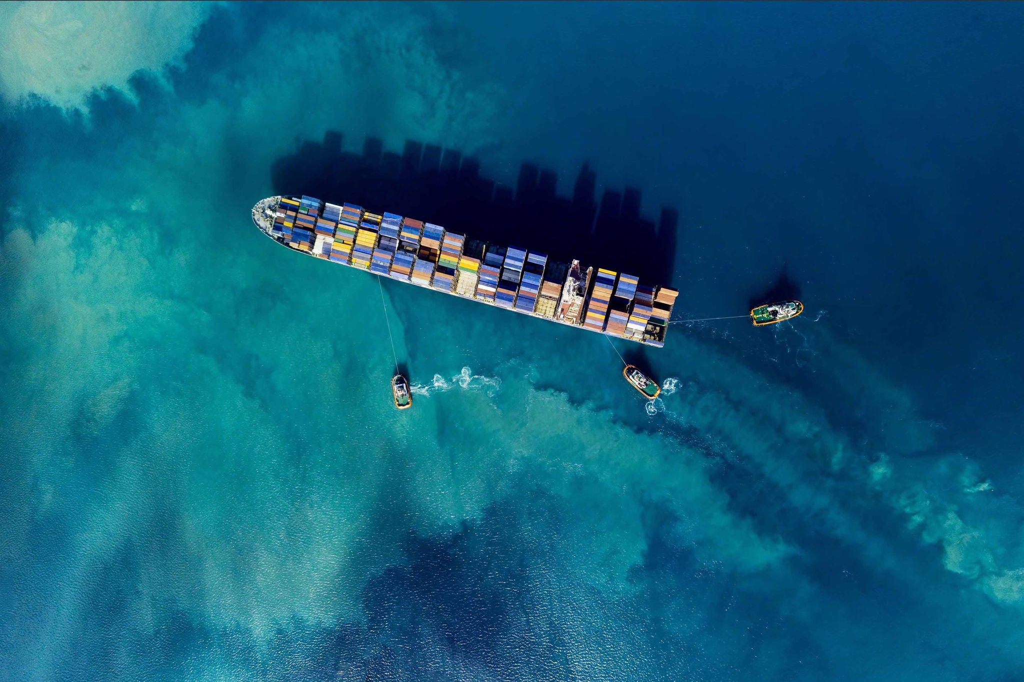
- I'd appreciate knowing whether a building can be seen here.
No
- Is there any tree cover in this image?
No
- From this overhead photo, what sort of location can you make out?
port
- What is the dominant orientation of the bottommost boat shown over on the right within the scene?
at an angle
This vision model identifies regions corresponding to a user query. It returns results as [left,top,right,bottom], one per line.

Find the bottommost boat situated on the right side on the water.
[624,363,662,402]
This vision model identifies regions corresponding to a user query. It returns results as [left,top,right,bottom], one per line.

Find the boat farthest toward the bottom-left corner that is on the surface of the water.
[391,373,413,409]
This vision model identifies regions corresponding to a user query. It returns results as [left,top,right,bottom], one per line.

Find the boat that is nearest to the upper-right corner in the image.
[750,299,804,329]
